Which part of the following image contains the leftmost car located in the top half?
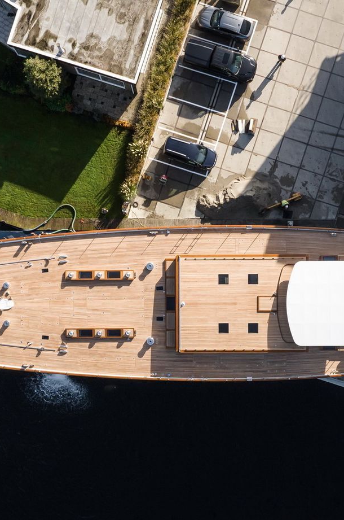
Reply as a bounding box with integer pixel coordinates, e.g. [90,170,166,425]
[161,135,220,171]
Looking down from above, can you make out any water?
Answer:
Yes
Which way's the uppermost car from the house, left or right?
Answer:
on its right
